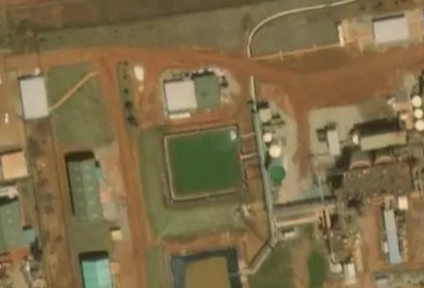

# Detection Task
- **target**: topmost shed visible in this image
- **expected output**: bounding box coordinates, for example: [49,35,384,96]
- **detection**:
[374,17,410,44]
